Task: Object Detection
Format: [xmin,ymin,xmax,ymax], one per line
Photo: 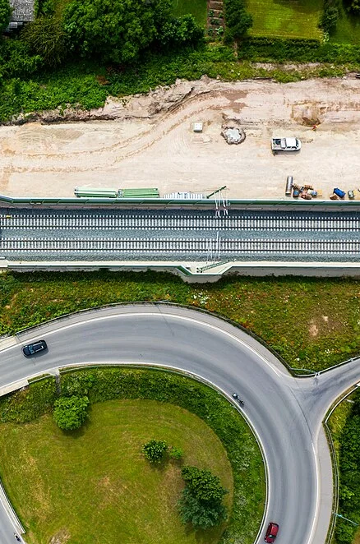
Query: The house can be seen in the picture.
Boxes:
[8,0,35,29]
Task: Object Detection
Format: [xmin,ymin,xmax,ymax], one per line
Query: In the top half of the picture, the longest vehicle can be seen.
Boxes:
[271,138,300,151]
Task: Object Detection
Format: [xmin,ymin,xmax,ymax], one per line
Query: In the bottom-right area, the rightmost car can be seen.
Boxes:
[264,520,280,543]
